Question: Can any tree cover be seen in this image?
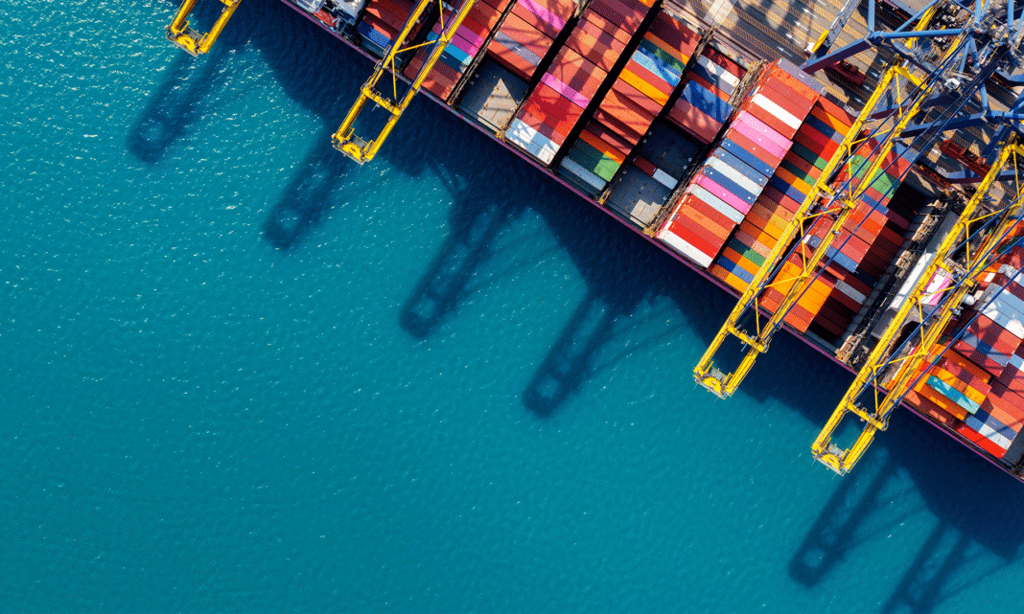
No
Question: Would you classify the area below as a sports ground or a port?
port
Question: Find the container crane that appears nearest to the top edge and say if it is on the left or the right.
left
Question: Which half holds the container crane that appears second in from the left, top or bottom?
top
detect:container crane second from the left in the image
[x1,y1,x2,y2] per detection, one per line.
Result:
[327,0,471,163]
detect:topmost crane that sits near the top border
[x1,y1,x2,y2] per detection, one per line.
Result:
[162,0,240,56]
